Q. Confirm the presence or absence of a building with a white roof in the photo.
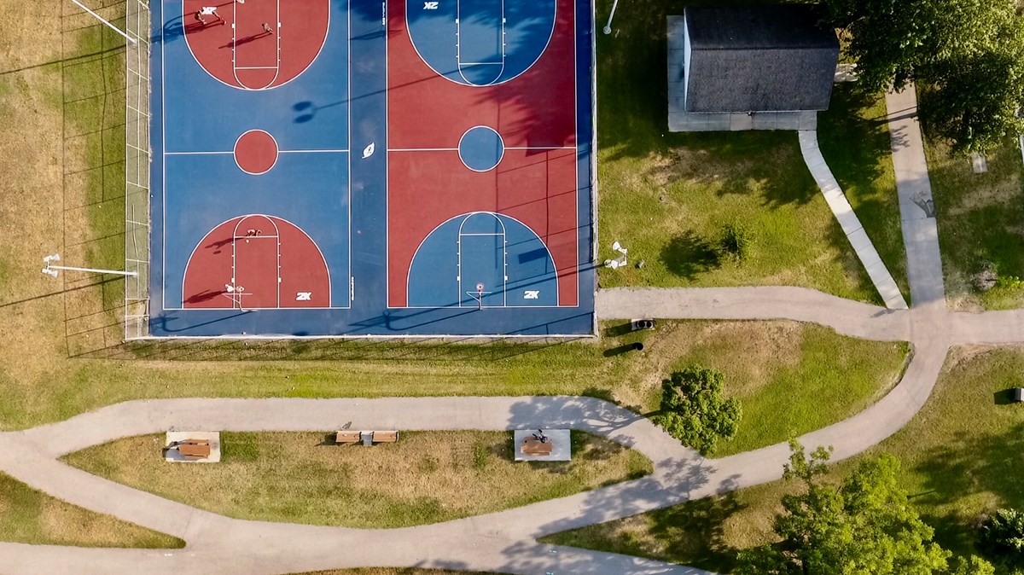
No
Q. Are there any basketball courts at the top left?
Yes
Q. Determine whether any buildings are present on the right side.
Yes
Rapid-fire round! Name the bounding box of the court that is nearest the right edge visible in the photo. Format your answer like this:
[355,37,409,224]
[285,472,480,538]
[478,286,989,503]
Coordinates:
[382,0,578,309]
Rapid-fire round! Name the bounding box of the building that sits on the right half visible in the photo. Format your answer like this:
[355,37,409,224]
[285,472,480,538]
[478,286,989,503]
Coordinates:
[678,6,839,120]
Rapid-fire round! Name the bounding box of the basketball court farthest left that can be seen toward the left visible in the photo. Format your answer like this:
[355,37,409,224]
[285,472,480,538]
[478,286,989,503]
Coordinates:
[162,0,354,311]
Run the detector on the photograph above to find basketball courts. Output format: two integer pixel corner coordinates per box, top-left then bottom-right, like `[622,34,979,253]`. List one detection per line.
[162,0,354,311]
[382,0,578,309]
